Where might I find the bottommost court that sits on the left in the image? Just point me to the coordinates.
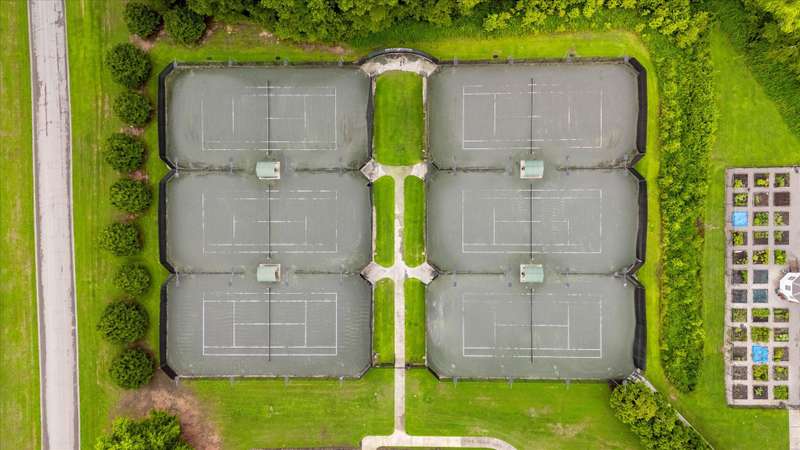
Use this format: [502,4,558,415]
[168,273,372,377]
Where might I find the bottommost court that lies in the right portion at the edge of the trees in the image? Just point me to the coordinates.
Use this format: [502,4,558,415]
[428,273,637,378]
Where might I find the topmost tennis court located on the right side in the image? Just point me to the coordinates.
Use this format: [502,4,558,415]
[430,63,638,170]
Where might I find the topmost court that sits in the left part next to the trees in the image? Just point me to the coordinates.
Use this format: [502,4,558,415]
[166,66,370,170]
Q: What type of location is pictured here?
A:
sports ground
